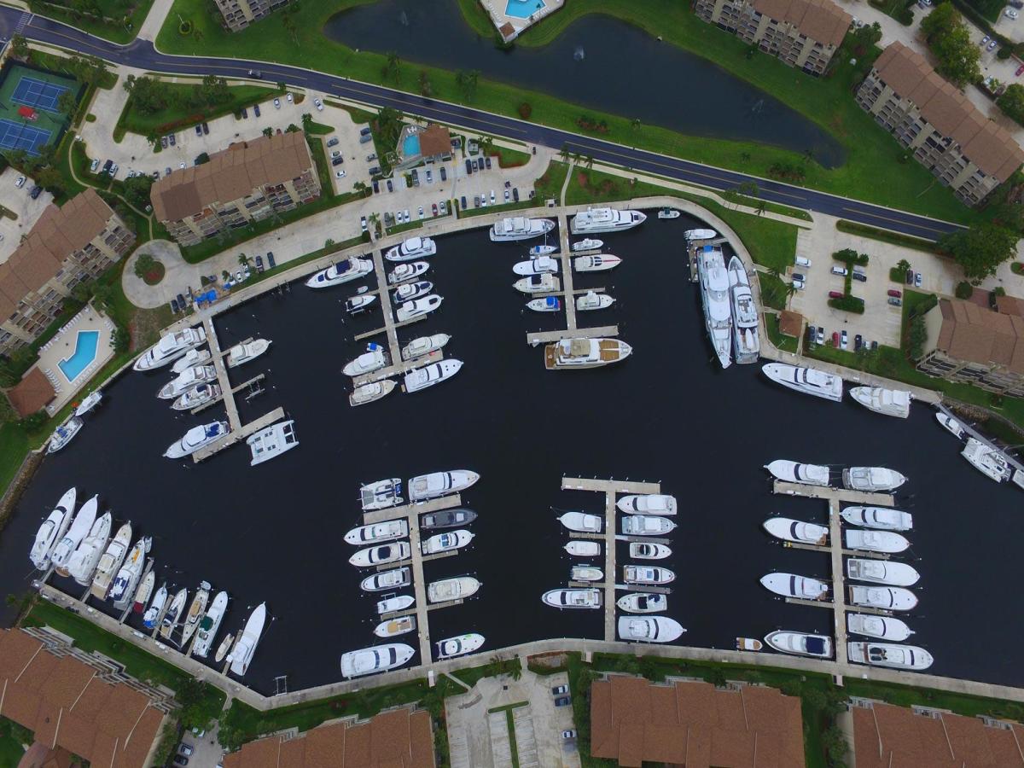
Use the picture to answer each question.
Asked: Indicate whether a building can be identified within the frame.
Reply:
Yes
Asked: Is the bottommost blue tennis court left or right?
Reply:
left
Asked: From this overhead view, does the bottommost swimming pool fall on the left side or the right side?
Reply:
left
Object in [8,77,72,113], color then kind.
blue tennis court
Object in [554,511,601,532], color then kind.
white boat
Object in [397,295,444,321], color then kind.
white boat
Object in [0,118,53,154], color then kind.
blue tennis court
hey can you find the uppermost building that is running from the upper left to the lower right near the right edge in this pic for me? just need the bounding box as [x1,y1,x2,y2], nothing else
[856,44,1024,197]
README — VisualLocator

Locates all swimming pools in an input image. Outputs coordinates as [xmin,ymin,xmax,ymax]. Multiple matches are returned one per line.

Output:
[35,306,117,418]
[480,0,564,43]
[395,123,424,162]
